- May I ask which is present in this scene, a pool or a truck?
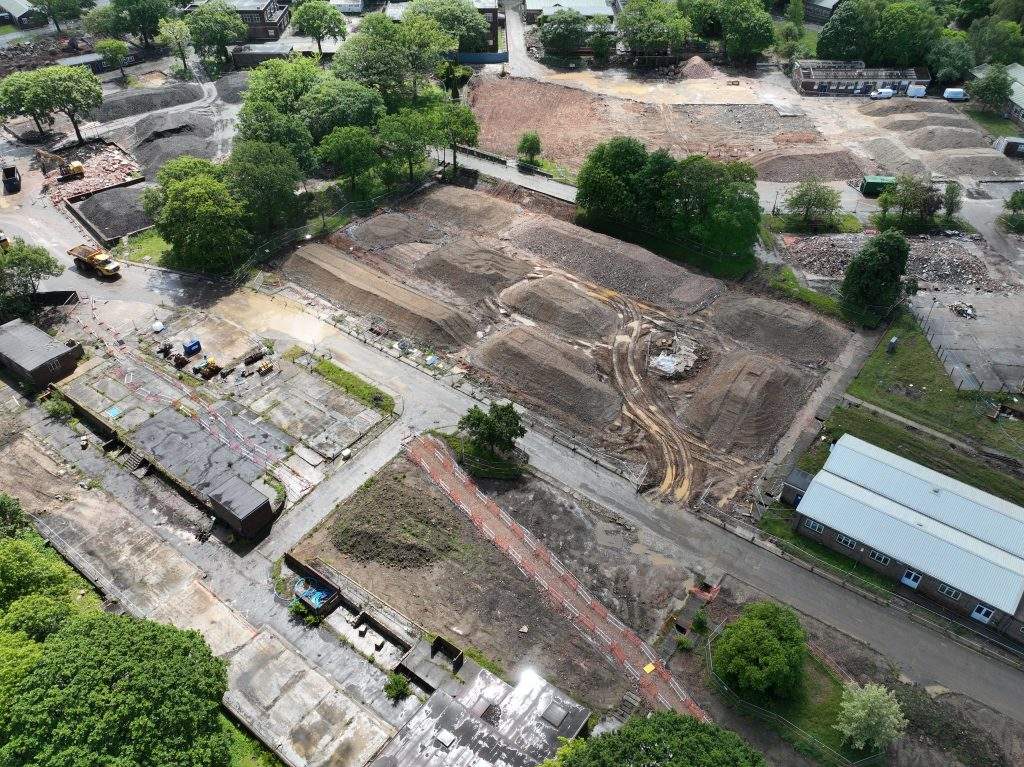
truck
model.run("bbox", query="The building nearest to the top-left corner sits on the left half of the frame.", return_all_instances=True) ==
[0,3,50,31]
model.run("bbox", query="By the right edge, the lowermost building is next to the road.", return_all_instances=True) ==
[795,431,1024,654]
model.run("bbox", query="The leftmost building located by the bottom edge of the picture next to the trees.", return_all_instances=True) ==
[369,668,591,767]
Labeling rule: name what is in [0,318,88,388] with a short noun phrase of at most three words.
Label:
building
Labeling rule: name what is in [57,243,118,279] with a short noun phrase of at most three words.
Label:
truck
